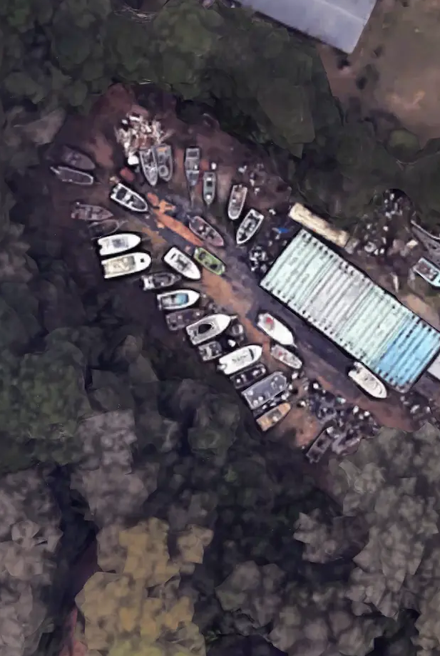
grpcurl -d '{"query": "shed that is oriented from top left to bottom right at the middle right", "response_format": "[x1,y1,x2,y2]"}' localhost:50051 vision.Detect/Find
[260,229,440,390]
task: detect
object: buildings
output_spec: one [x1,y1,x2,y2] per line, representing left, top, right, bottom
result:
[260,229,440,390]
[256,0,377,54]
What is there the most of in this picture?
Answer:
trees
